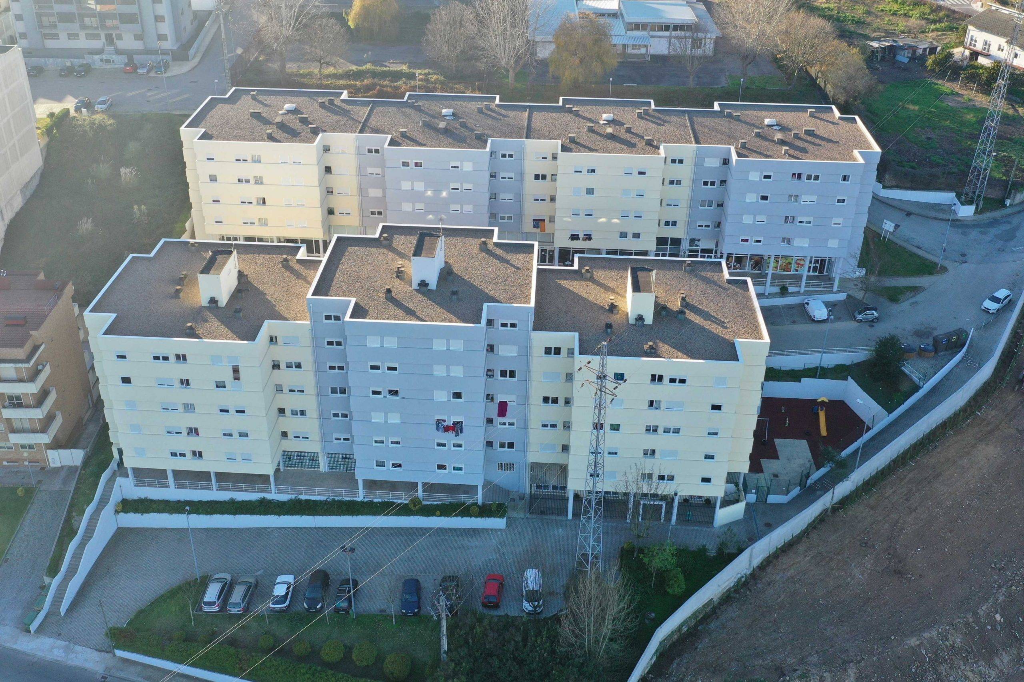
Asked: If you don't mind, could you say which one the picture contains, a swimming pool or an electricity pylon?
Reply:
electricity pylon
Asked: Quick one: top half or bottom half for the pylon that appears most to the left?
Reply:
bottom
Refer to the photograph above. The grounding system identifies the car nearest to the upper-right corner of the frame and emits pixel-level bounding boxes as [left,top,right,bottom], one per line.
[980,291,1015,310]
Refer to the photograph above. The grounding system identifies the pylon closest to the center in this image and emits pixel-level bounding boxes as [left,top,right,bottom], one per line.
[574,340,626,574]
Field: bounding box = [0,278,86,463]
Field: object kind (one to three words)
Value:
building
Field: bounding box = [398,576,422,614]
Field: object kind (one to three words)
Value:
car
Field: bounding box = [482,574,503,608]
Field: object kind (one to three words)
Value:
car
